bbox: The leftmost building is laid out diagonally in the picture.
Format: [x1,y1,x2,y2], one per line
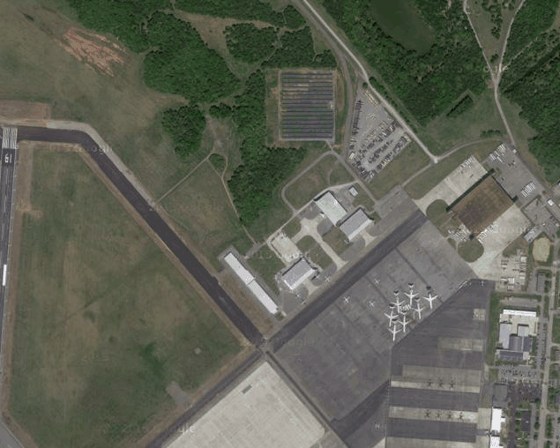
[224,252,256,286]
